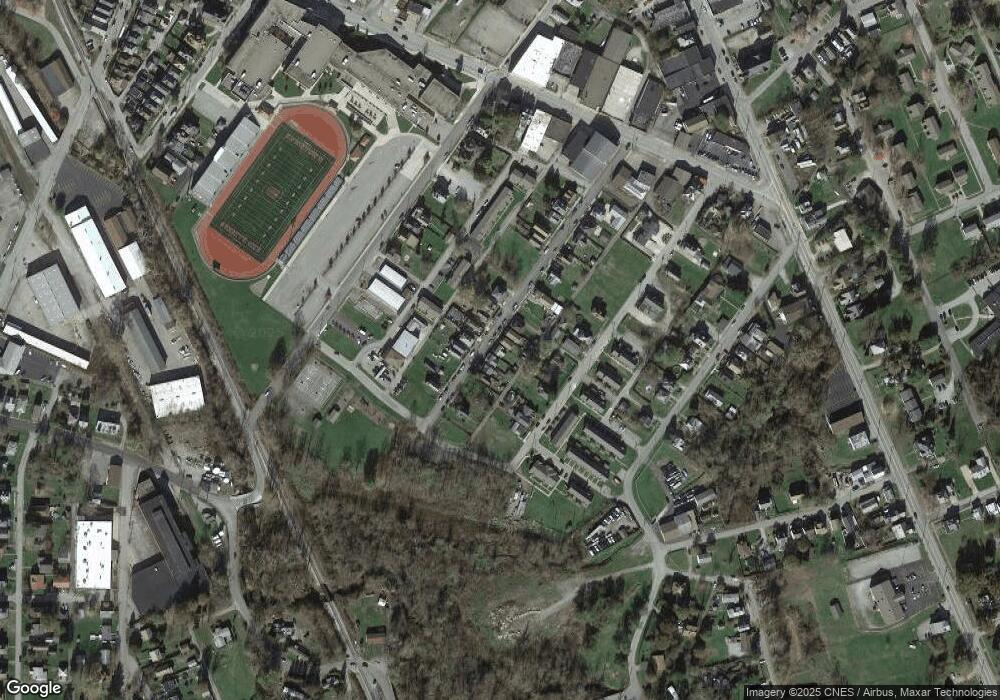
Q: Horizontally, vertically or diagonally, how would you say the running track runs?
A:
diagonally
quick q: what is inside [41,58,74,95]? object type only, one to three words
barn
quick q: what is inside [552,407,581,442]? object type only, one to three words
building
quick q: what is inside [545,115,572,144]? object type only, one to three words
building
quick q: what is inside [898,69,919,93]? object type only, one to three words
house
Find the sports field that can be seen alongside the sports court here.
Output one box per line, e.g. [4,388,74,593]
[189,263,300,394]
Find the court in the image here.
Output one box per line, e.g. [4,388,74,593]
[292,360,344,409]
